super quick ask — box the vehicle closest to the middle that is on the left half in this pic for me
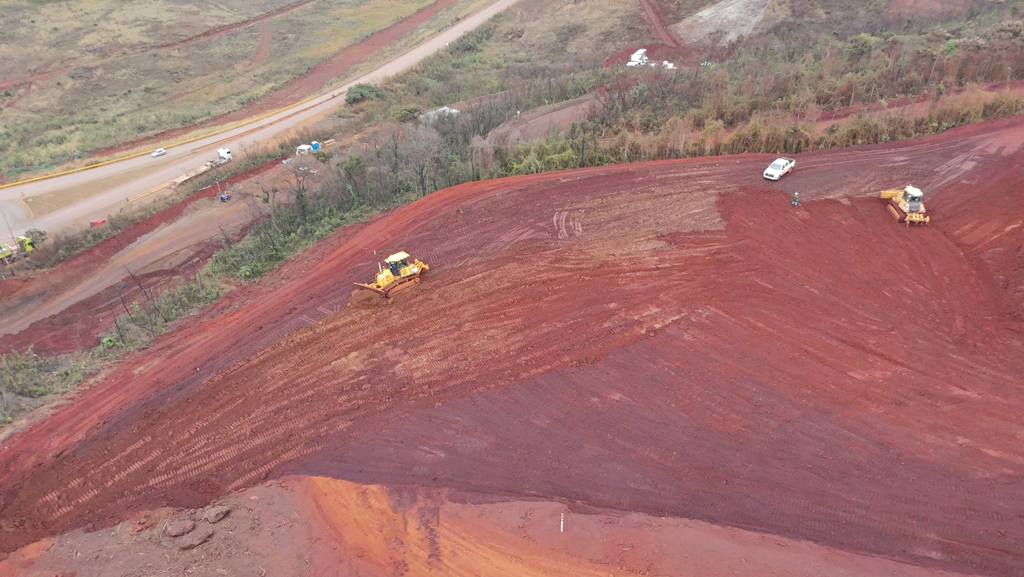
[361,252,433,310]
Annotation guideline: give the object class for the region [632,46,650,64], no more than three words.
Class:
vehicle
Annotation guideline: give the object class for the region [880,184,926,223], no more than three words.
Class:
work vehicle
